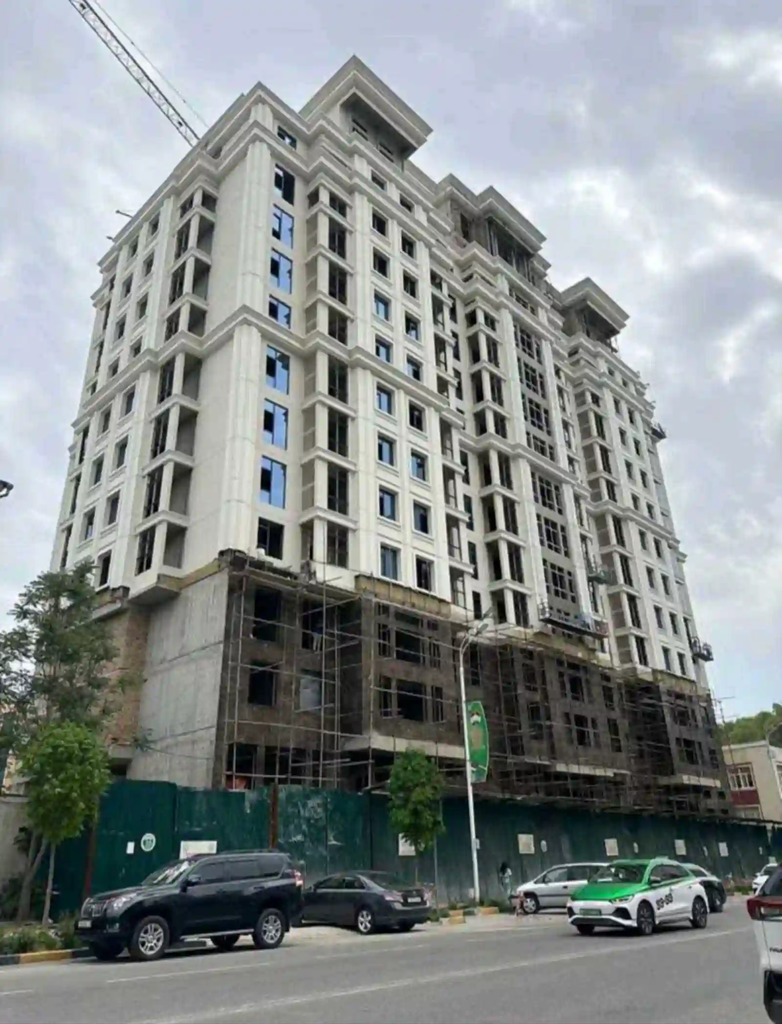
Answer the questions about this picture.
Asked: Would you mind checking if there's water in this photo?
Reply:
No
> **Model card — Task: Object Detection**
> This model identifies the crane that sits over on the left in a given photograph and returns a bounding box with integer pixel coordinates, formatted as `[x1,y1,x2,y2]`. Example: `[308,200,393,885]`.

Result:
[64,0,223,147]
